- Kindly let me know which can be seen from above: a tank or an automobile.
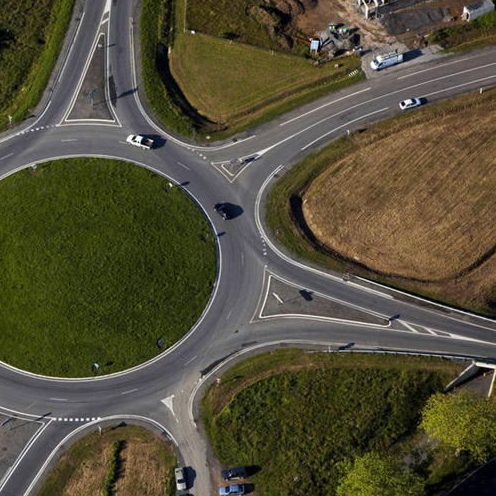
automobile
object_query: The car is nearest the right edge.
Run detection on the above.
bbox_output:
[398,97,422,110]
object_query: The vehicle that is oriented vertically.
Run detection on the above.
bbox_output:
[175,467,187,492]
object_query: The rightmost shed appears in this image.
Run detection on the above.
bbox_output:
[462,2,494,23]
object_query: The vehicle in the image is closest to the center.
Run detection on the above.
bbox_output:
[214,203,233,222]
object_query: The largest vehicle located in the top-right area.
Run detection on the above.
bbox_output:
[372,50,405,71]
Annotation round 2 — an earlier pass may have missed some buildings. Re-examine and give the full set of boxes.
[345,0,430,22]
[462,2,494,23]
